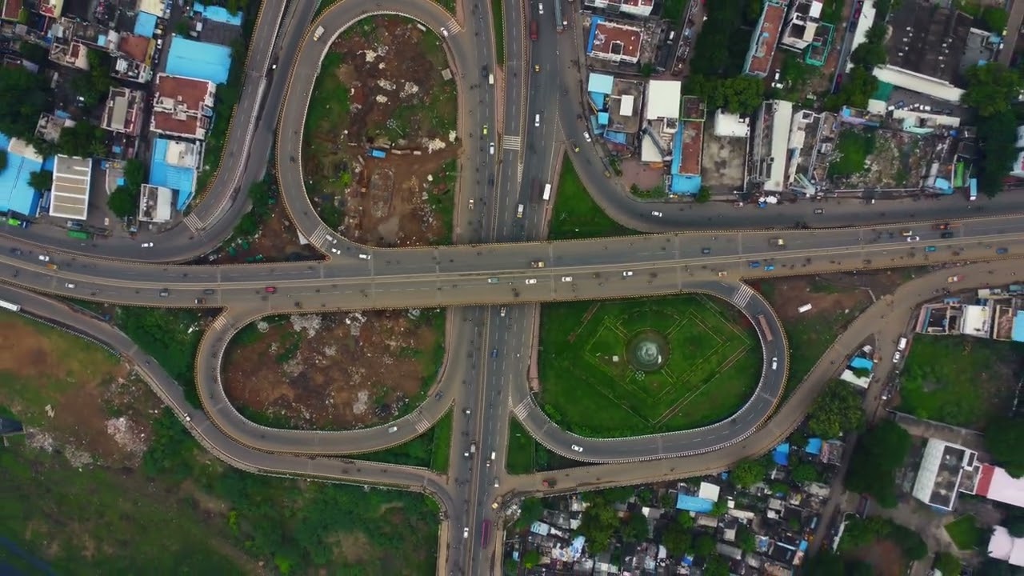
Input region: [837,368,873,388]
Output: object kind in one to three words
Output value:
shed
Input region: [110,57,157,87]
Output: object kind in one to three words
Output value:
house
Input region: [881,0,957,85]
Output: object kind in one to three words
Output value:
building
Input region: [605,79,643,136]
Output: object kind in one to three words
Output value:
house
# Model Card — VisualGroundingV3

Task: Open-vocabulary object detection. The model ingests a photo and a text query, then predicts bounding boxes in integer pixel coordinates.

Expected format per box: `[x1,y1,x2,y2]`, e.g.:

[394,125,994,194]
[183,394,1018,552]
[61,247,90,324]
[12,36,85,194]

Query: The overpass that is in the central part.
[0,212,1024,314]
